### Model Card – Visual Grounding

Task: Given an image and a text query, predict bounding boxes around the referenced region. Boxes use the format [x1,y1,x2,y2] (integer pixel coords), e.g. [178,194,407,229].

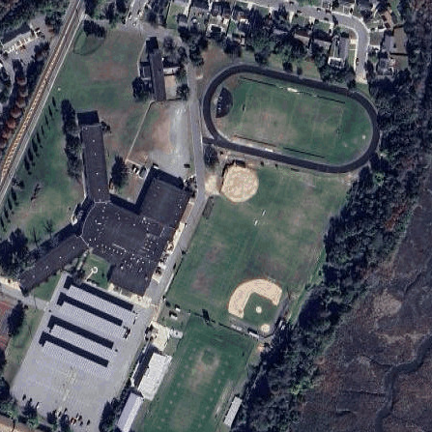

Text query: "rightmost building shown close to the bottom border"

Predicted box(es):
[115,392,142,431]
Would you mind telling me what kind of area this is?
sports ground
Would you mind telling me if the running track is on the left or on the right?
right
